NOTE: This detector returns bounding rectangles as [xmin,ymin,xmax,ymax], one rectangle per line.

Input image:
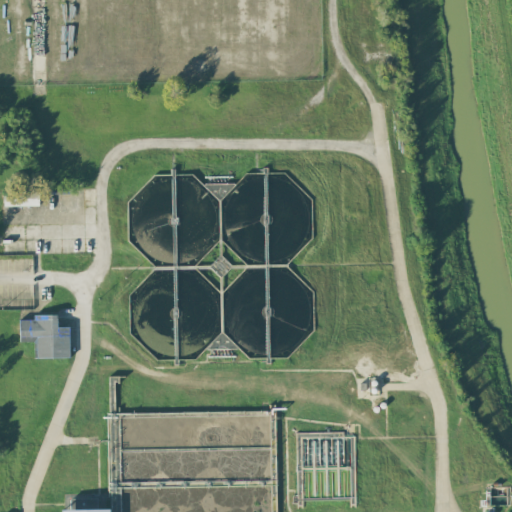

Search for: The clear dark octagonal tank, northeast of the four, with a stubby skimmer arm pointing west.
[221,166,314,266]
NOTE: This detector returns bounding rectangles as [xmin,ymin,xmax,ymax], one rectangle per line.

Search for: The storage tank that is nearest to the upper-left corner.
[129,168,221,267]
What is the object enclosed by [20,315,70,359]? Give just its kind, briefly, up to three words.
house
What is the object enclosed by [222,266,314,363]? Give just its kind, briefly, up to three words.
storage tank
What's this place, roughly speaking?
industrial area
